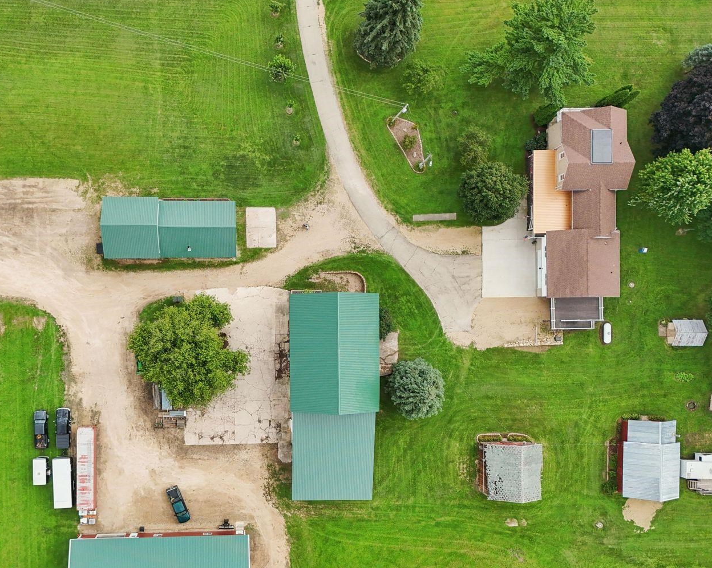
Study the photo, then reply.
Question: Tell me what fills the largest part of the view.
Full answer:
Most of the picture is covered by grass.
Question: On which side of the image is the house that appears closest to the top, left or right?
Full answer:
It is on the right.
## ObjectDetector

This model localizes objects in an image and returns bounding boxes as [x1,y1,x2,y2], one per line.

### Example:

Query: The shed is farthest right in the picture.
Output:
[664,320,708,346]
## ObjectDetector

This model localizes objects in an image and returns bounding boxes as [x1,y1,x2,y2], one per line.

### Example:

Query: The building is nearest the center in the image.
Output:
[290,292,380,415]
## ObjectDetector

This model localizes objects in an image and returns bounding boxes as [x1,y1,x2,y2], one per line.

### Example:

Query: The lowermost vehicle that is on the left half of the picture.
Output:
[165,484,192,524]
